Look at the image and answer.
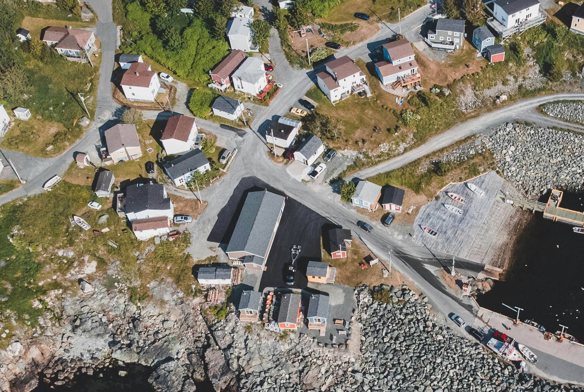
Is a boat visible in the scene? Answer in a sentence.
Yes, a boat is visible in the scene.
